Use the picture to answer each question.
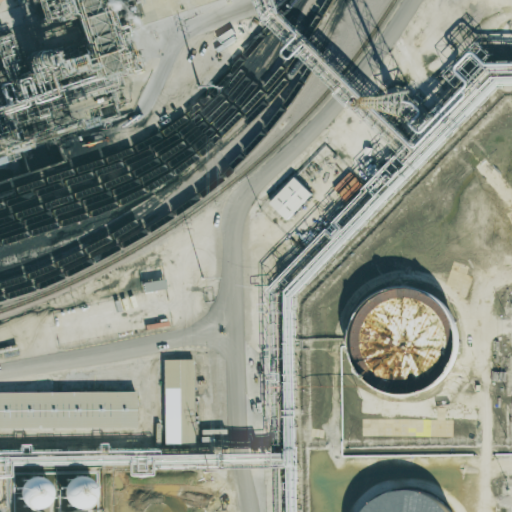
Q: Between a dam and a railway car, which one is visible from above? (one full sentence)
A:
Visible in the photo is a railway car.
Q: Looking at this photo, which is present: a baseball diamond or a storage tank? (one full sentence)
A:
It is a storage tank that can be seen here.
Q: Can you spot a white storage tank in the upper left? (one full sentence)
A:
No, there is no white storage tank in the upper left.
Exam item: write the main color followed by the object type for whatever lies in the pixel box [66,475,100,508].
white storage tank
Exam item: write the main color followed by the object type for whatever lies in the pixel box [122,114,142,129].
white vehicle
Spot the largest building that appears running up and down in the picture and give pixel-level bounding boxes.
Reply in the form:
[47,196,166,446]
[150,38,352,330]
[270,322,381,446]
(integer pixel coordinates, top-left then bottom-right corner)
[164,360,197,443]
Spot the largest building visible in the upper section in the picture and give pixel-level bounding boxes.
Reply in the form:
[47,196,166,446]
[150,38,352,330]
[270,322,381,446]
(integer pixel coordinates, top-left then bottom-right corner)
[272,178,312,220]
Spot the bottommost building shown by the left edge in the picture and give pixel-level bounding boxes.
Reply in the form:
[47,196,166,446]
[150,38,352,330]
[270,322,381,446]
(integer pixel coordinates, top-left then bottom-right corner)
[0,390,140,434]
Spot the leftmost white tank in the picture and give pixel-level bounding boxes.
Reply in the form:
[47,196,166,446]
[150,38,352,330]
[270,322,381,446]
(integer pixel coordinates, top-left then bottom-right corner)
[21,475,56,508]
